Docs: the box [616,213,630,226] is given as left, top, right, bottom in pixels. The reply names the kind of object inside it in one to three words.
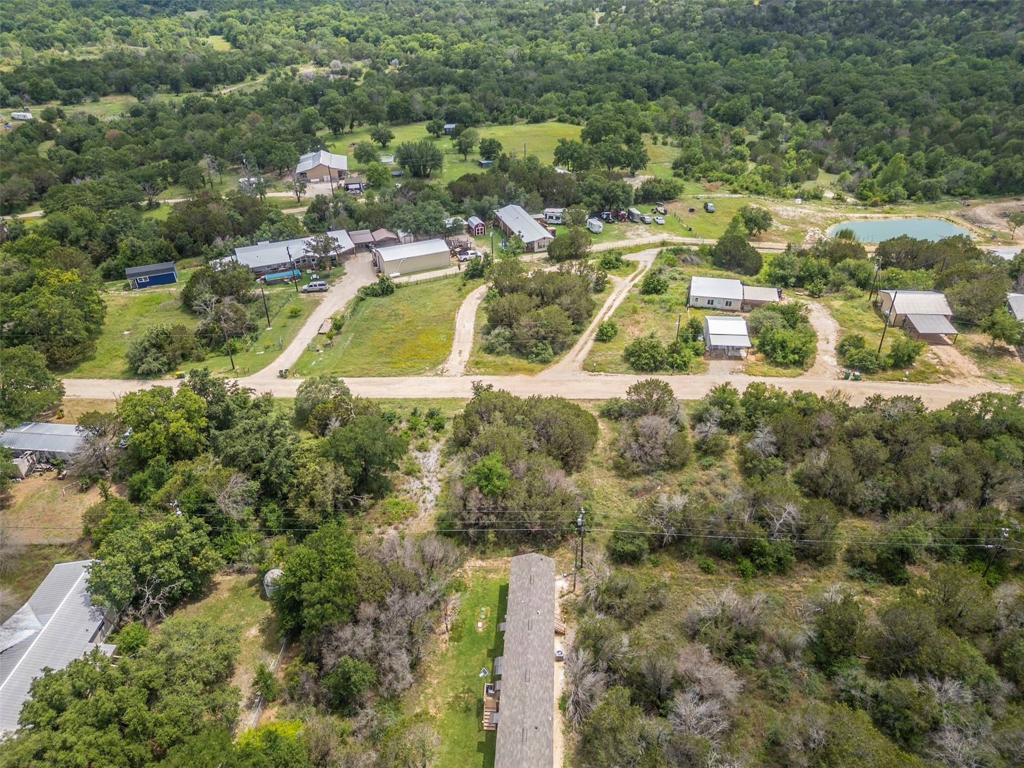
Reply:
vehicle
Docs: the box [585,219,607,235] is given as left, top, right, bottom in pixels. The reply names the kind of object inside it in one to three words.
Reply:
vehicle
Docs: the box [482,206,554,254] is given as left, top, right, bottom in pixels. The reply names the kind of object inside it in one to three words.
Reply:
house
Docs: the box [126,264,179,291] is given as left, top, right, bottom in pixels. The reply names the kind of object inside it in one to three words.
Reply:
shed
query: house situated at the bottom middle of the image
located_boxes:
[489,554,554,768]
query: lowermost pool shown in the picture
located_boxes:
[263,270,302,283]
